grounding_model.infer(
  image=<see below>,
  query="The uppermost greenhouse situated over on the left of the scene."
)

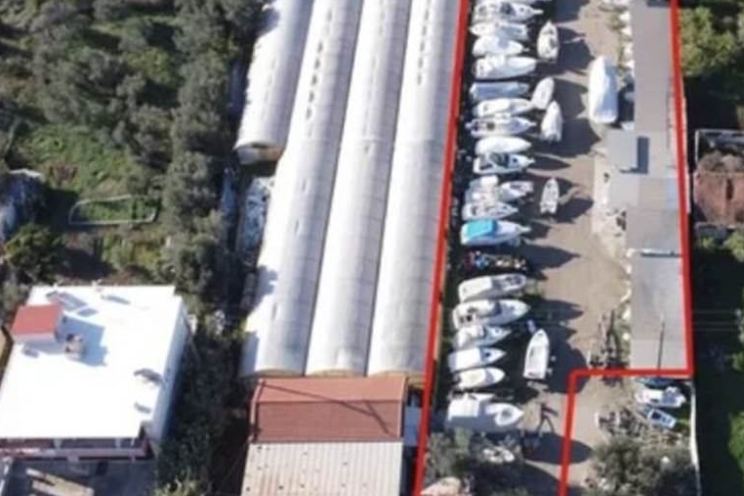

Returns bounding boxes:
[237,0,314,164]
